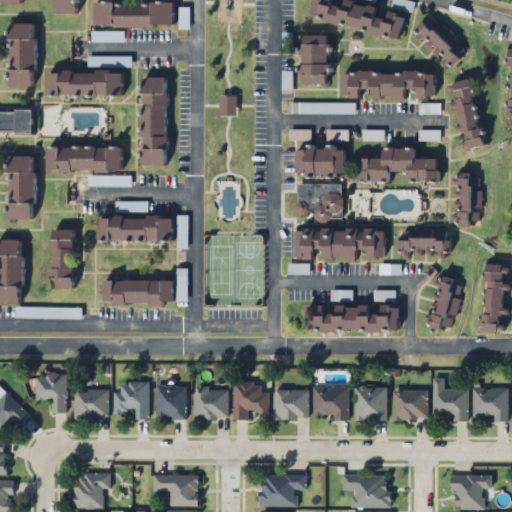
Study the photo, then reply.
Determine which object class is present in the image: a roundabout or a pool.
pool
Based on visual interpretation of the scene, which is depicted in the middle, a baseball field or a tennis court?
tennis court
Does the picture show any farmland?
No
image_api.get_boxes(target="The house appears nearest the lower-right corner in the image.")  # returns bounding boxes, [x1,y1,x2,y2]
[451,475,492,510]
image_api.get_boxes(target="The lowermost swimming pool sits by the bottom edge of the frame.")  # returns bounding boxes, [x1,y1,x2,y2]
[496,492,512,508]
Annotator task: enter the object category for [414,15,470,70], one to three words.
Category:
building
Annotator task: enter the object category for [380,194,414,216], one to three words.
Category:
swimming pool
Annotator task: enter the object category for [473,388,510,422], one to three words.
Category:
house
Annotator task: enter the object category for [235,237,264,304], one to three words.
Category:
basketball court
